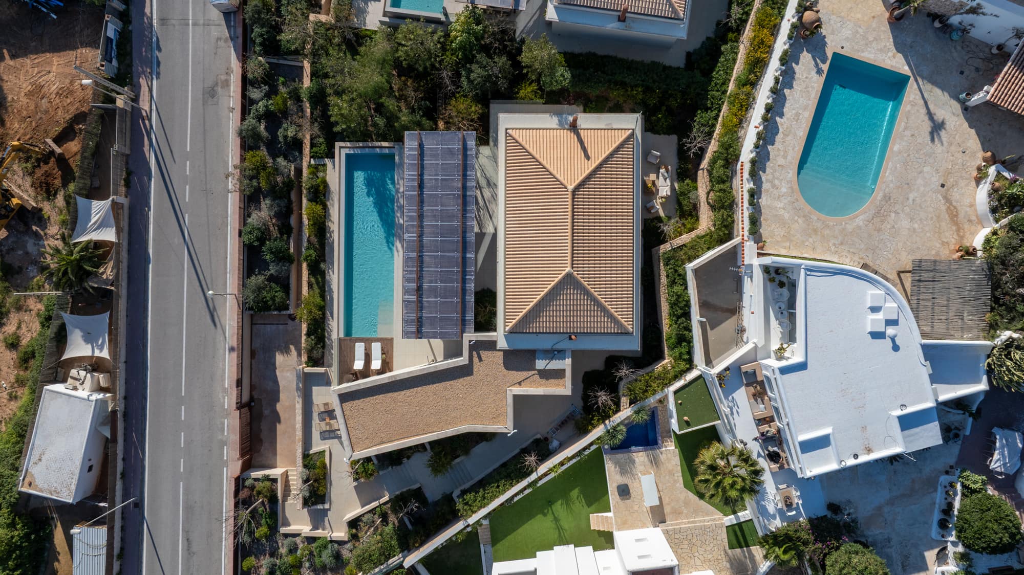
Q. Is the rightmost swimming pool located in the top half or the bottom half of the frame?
top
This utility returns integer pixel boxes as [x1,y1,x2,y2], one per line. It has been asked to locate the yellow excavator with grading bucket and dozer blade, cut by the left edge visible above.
[0,137,69,244]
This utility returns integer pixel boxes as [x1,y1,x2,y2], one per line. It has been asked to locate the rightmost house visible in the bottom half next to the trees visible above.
[761,267,993,479]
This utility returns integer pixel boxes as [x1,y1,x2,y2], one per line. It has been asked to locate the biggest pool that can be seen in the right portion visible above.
[792,46,916,218]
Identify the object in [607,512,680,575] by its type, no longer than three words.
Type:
house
